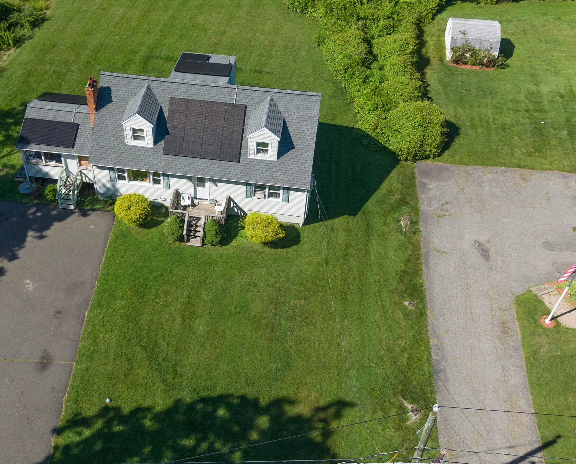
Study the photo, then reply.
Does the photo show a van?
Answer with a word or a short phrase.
No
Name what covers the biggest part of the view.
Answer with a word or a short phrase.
grass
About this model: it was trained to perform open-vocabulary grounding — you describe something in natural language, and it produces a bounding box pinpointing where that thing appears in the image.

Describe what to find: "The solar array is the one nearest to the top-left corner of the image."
[34,90,86,103]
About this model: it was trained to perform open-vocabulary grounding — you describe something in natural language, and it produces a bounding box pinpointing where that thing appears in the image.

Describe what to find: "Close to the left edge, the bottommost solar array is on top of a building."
[18,117,78,147]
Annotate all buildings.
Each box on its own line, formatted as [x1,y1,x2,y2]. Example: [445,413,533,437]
[444,16,505,62]
[16,54,321,229]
